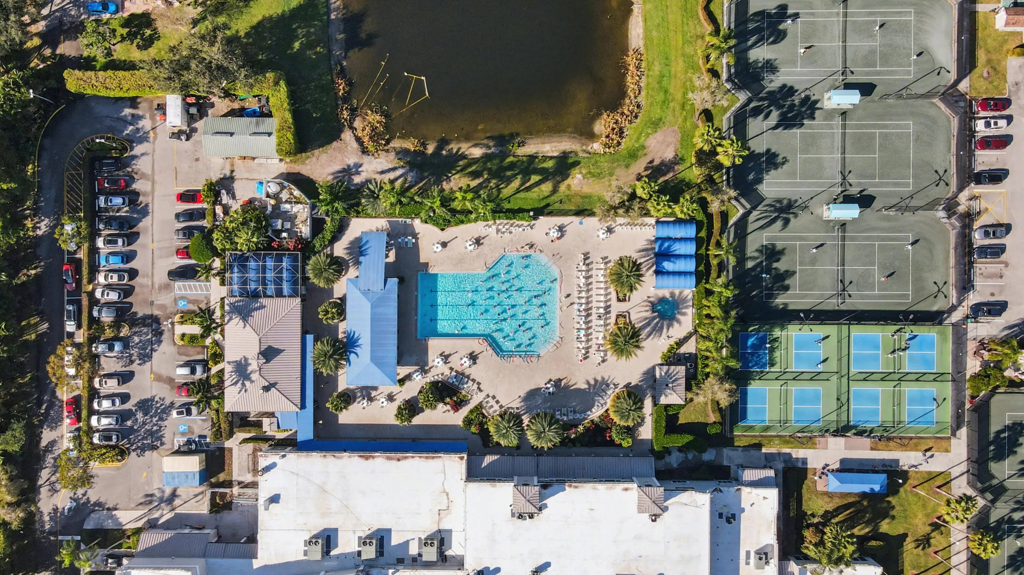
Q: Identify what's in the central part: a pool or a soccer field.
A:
pool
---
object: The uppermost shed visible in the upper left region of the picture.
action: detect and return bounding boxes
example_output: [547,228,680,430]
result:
[202,116,279,158]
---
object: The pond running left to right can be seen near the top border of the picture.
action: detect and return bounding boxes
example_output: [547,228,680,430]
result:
[346,0,629,139]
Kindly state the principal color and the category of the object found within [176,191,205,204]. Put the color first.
red vehicle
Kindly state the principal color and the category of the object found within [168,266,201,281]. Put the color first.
black car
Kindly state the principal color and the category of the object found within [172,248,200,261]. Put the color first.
red vehicle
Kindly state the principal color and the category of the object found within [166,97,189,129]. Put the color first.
white trailer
